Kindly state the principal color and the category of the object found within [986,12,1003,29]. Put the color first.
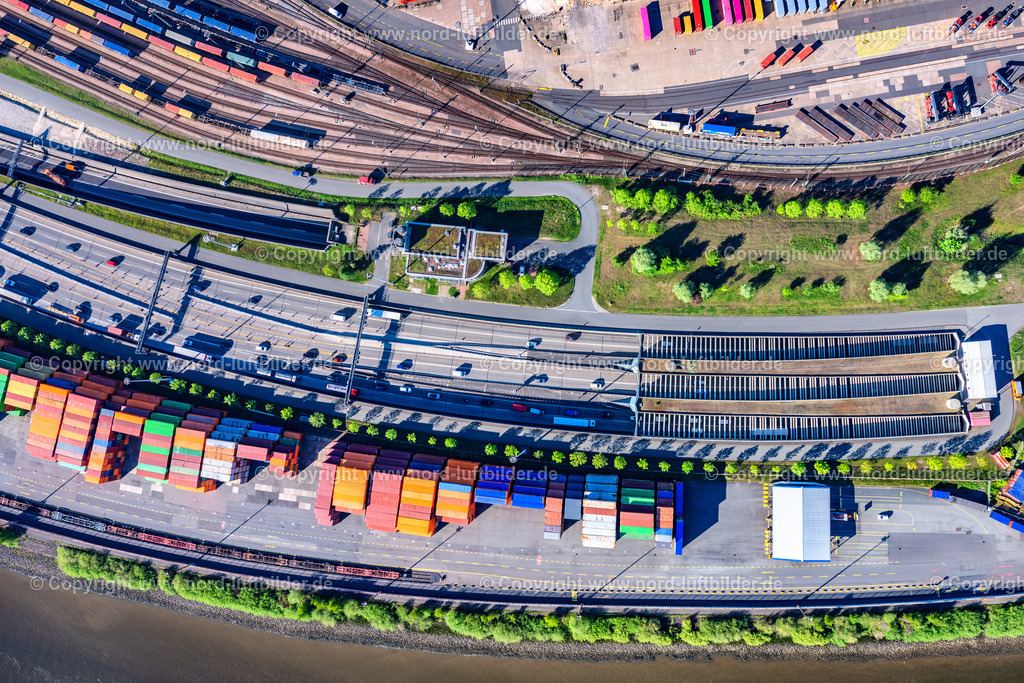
red work vehicle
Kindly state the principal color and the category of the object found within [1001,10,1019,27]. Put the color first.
blue work vehicle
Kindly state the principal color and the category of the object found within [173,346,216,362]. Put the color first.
white vehicle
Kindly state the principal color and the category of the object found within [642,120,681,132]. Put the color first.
white vehicle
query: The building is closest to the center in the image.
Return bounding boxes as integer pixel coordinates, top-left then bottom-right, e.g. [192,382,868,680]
[404,221,510,281]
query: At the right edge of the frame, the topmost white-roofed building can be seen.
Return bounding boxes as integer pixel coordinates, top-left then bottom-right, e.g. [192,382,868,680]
[957,340,997,399]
